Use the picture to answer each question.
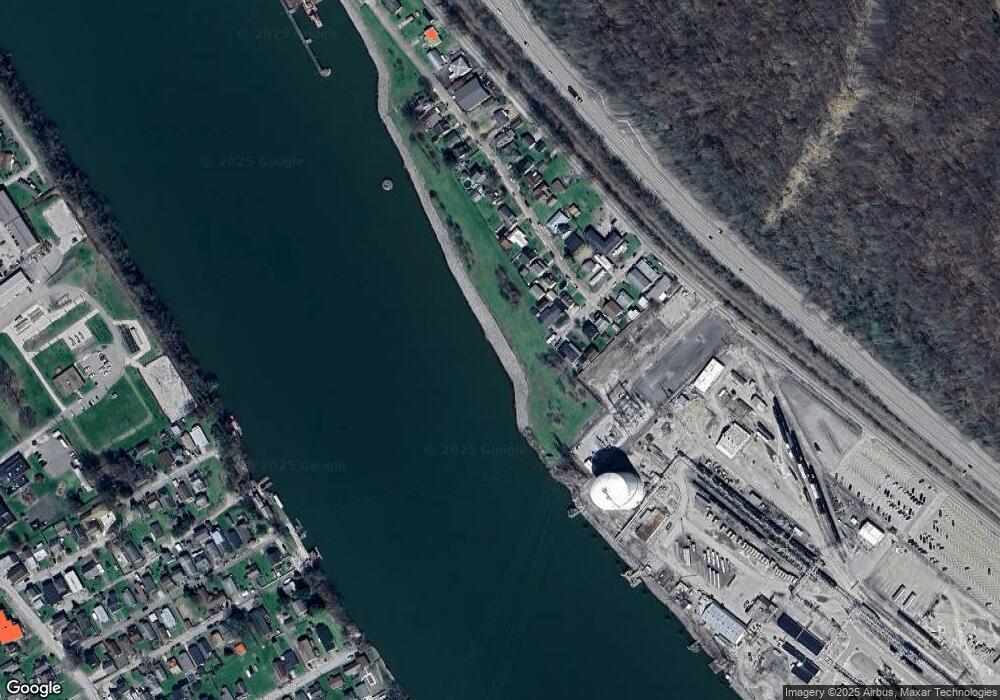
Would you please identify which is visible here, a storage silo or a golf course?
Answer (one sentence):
This aerial view contains a storage silo.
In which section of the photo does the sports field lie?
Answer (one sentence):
The sports field sits in the left section of the image.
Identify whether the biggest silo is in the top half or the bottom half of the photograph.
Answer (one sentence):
You can find the biggest silo in the bottom half.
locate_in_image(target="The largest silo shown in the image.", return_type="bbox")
[591,472,644,512]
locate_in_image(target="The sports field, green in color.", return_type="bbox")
[66,371,159,460]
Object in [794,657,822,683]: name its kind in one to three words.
building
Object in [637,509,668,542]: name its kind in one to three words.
shed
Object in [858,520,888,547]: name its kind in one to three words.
building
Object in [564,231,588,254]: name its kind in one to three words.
house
